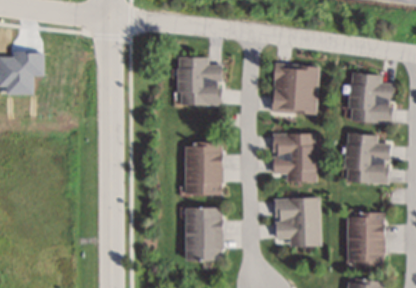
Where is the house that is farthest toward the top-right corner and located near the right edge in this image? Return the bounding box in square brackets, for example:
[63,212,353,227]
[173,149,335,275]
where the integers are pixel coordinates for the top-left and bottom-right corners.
[342,74,396,123]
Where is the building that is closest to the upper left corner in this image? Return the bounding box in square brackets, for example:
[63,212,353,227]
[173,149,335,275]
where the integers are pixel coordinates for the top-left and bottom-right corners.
[0,50,44,95]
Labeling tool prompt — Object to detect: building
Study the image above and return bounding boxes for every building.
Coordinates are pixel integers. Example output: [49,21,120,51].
[274,134,318,182]
[342,74,396,123]
[180,142,223,198]
[348,212,386,266]
[276,198,322,248]
[271,62,321,116]
[174,56,222,108]
[348,134,390,184]
[0,50,44,95]
[180,206,223,264]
